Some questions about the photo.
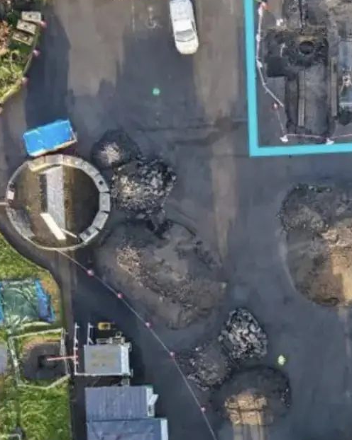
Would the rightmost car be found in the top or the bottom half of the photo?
top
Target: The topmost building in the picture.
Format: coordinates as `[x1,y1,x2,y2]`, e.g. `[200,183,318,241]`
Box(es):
[87,385,166,419]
